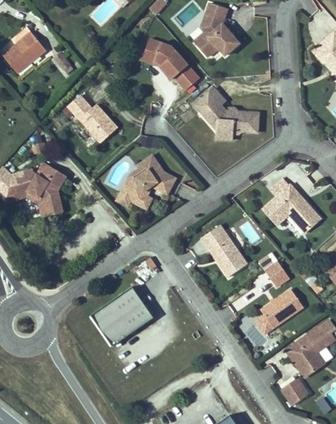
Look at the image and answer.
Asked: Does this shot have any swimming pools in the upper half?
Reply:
Yes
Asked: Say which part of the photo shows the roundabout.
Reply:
bottom left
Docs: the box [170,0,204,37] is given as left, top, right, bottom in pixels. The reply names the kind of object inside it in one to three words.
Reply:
swimming pool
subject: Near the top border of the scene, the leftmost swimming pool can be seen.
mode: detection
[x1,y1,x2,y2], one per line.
[89,0,128,26]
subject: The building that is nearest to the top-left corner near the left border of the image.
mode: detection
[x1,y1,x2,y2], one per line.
[1,26,46,76]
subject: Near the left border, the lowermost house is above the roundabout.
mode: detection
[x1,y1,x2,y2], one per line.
[0,163,66,217]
